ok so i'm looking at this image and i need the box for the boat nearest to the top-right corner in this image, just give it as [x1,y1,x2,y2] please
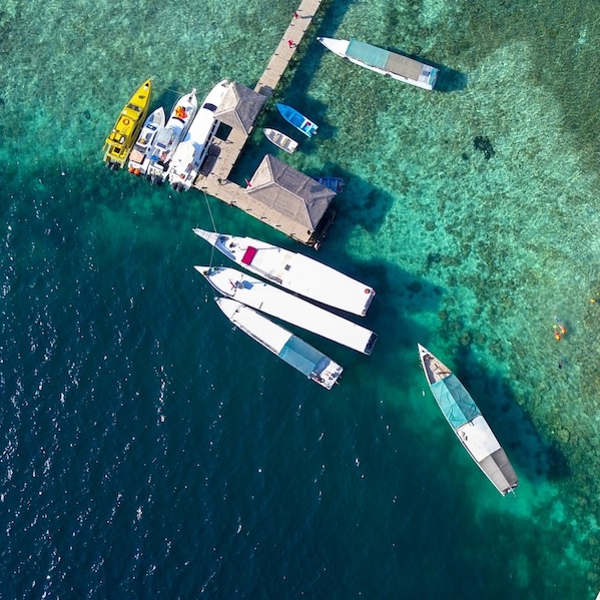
[319,37,439,92]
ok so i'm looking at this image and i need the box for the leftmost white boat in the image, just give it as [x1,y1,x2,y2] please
[128,107,164,175]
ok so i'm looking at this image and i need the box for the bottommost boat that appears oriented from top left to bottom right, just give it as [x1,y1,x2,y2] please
[418,344,517,496]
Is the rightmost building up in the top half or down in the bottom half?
top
